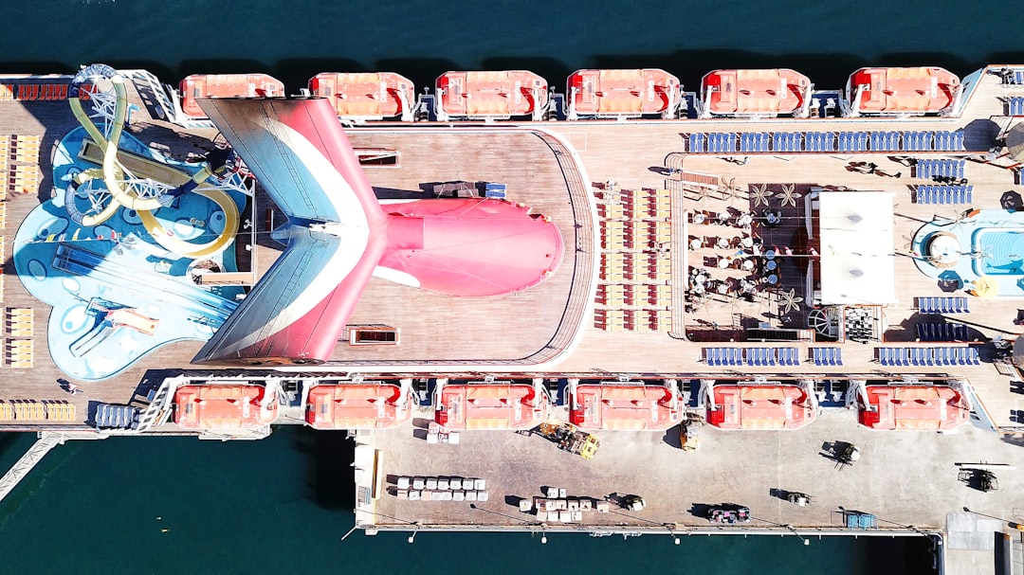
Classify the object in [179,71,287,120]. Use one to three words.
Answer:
boat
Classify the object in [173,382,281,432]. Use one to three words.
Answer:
boat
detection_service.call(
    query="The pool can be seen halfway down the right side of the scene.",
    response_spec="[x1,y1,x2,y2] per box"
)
[909,207,1024,297]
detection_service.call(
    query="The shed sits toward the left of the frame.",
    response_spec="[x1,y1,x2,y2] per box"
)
[356,444,375,468]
